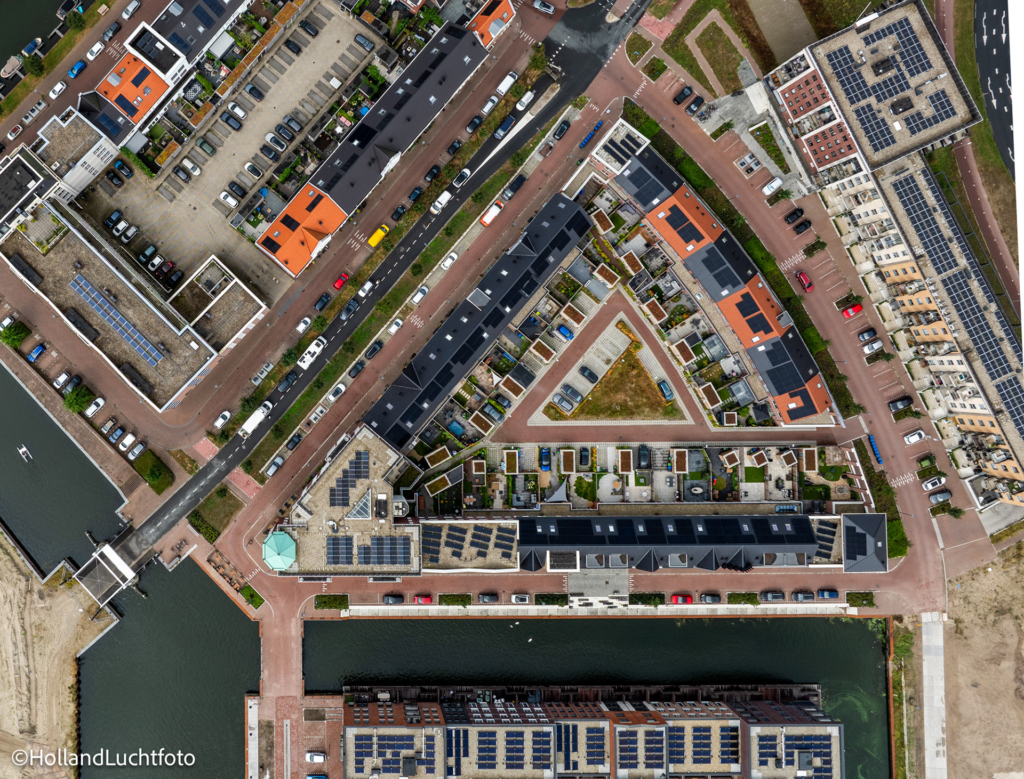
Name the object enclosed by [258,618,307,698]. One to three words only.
bridge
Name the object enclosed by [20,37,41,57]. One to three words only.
boat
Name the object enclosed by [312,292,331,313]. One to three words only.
car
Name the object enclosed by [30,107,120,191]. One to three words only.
building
